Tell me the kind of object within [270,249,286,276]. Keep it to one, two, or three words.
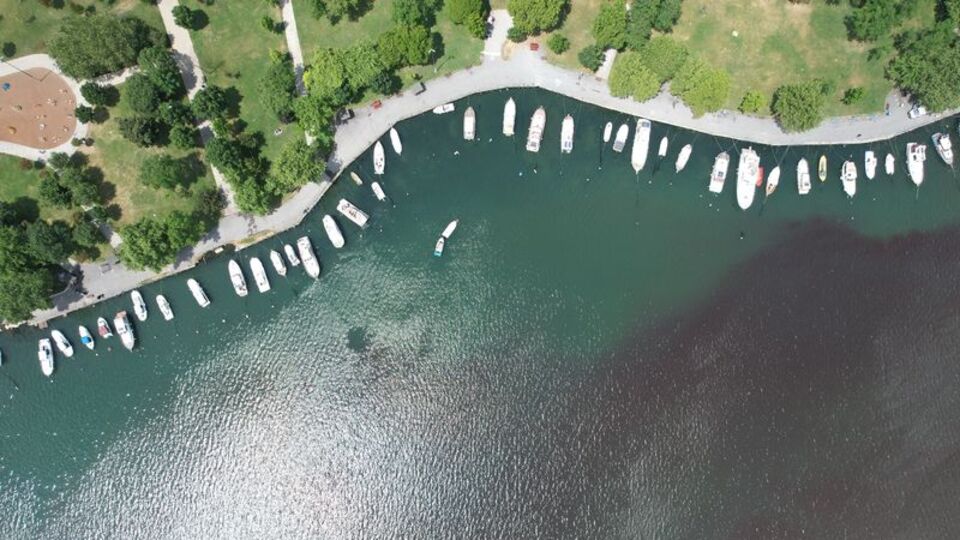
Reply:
boat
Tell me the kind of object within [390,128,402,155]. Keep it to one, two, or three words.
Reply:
boat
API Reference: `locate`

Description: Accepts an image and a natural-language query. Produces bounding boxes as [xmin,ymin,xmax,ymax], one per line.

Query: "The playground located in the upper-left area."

[0,53,89,165]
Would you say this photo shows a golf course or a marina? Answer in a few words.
marina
